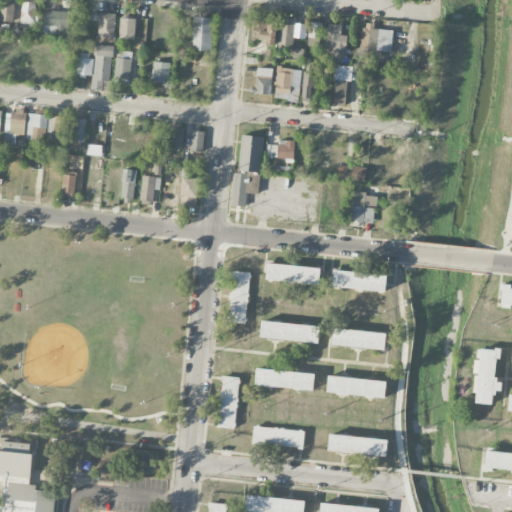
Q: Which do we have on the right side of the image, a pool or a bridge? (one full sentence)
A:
Visible on the right side of the image is a bridge.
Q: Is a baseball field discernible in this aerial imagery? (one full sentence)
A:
Yes, looking at the shot, I can spot a baseball field.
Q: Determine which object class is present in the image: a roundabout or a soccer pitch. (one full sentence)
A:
There is a soccer pitch in the scene.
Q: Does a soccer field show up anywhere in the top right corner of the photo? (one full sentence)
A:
No, no soccer field appears in the top right corner of the photo.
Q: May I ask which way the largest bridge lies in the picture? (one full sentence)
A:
The largest bridge is laid out from left to right.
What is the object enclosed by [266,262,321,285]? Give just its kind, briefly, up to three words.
building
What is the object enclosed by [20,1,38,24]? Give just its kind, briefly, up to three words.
house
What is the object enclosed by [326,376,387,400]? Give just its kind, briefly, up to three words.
building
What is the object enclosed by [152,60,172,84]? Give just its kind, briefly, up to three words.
house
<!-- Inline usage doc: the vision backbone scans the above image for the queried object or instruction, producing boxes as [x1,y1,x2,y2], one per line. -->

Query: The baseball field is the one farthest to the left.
[23,322,89,388]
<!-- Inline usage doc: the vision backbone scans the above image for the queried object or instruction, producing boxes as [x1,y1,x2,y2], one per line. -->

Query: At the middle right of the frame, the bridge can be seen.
[396,240,495,278]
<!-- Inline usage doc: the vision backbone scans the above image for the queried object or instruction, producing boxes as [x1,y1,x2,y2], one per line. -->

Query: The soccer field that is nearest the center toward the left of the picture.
[92,278,162,388]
